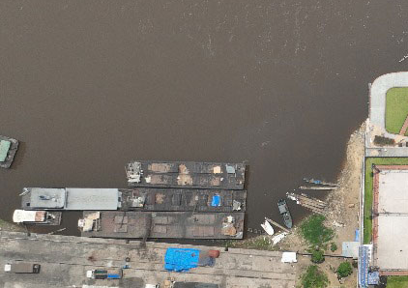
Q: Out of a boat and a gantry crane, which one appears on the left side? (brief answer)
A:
boat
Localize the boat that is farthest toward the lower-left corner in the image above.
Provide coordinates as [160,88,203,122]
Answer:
[14,209,63,225]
